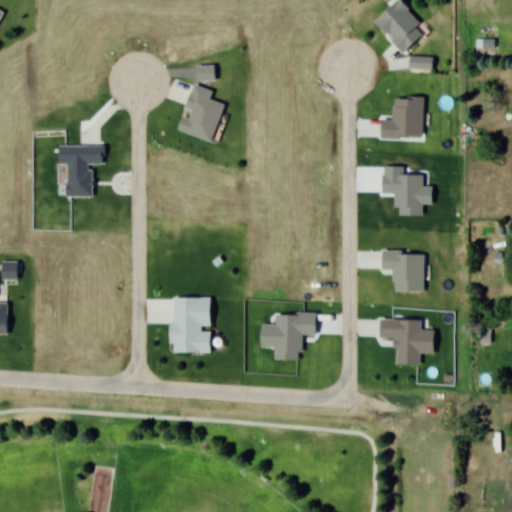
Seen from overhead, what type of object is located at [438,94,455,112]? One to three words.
swimming pool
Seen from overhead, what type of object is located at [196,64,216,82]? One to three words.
building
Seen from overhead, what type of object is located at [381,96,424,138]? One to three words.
house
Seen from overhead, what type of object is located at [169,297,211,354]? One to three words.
house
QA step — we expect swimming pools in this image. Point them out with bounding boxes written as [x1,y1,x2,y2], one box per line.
[426,366,439,380]
[479,372,492,386]
[438,94,455,112]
